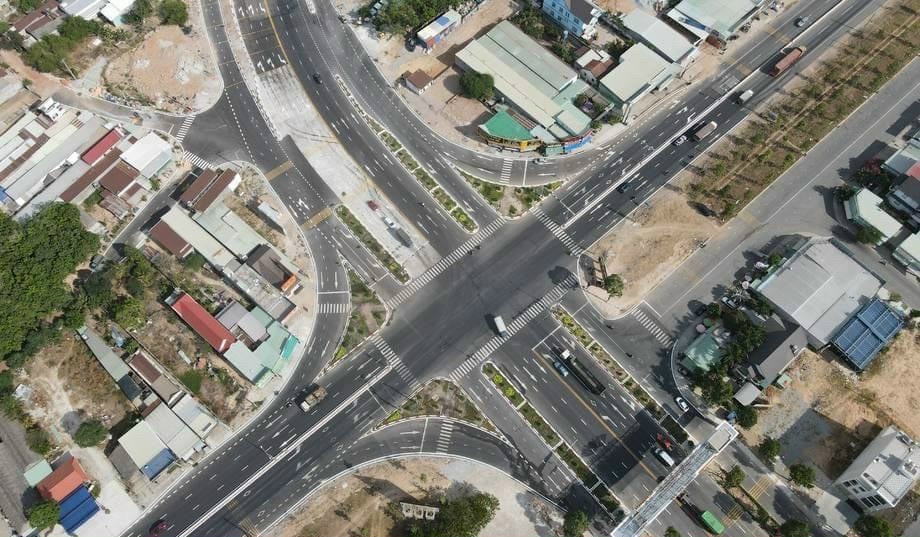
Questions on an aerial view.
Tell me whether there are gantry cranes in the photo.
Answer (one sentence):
No, I find no gantry crane anywhere in the image.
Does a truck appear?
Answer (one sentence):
Yes, looking at the shot, I can spot a truck.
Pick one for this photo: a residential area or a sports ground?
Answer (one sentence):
The picture captures a residential area.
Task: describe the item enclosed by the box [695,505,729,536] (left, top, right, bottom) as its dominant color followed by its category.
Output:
green bus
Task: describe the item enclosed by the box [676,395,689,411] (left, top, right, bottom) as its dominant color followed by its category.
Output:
white vehicle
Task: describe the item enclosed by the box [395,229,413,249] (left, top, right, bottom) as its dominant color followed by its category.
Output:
gray vehicle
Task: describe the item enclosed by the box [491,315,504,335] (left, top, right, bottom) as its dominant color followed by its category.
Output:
white vehicle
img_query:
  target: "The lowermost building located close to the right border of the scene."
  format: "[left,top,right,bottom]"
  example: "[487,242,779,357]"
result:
[834,426,920,513]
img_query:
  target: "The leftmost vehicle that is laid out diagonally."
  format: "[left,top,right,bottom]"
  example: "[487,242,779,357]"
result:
[90,253,103,267]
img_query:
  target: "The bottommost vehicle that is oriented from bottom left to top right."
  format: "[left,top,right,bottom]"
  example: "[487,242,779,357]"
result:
[150,518,167,534]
